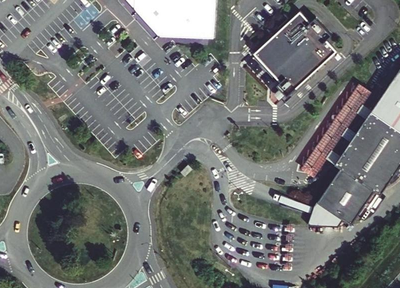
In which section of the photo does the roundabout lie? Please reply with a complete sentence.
You can find the roundabout in the bottom left area of the picture.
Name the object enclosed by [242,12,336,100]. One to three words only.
building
